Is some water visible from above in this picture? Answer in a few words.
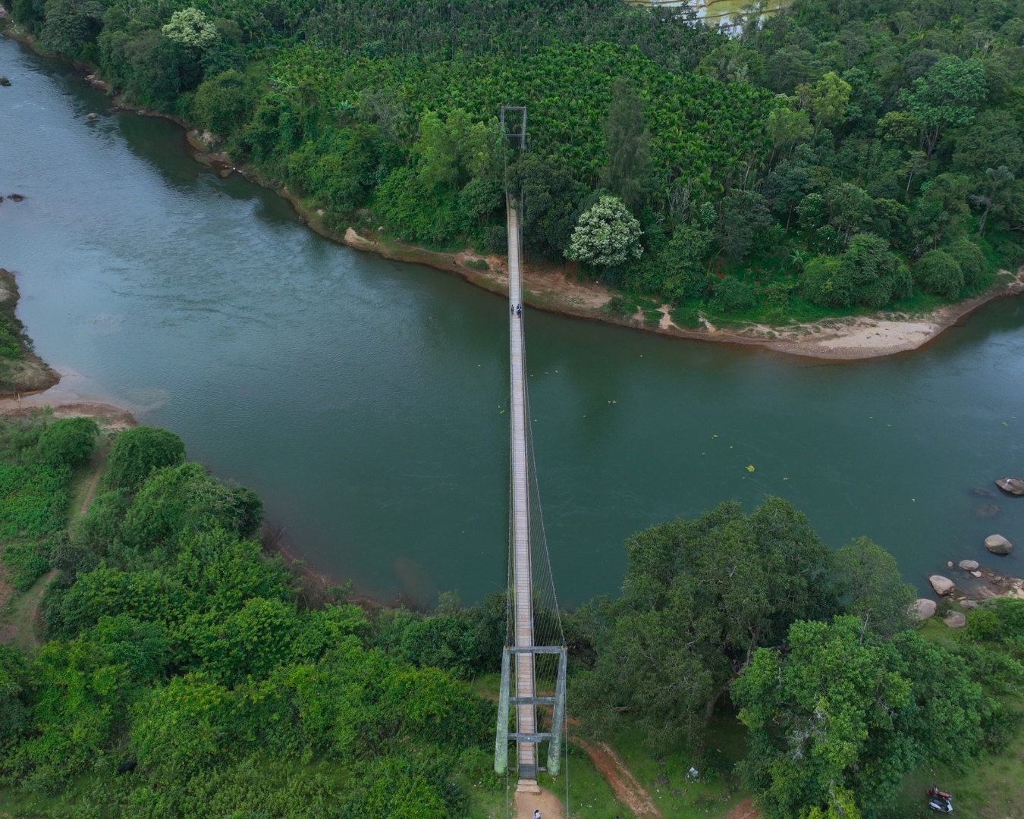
Yes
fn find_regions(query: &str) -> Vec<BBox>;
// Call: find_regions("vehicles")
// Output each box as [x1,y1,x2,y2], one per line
[930,800,957,814]
[928,784,958,802]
